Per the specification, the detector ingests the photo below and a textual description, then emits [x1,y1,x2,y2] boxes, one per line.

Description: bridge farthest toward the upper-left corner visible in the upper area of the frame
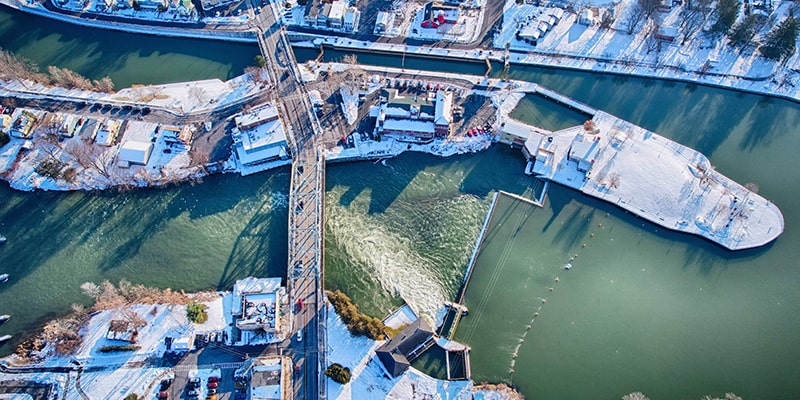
[261,30,315,72]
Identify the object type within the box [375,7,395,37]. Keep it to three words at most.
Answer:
building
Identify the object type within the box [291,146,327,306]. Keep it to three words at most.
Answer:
bridge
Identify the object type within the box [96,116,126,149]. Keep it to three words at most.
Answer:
house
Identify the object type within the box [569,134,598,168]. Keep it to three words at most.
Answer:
building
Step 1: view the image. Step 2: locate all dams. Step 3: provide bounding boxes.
[445,180,551,303]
